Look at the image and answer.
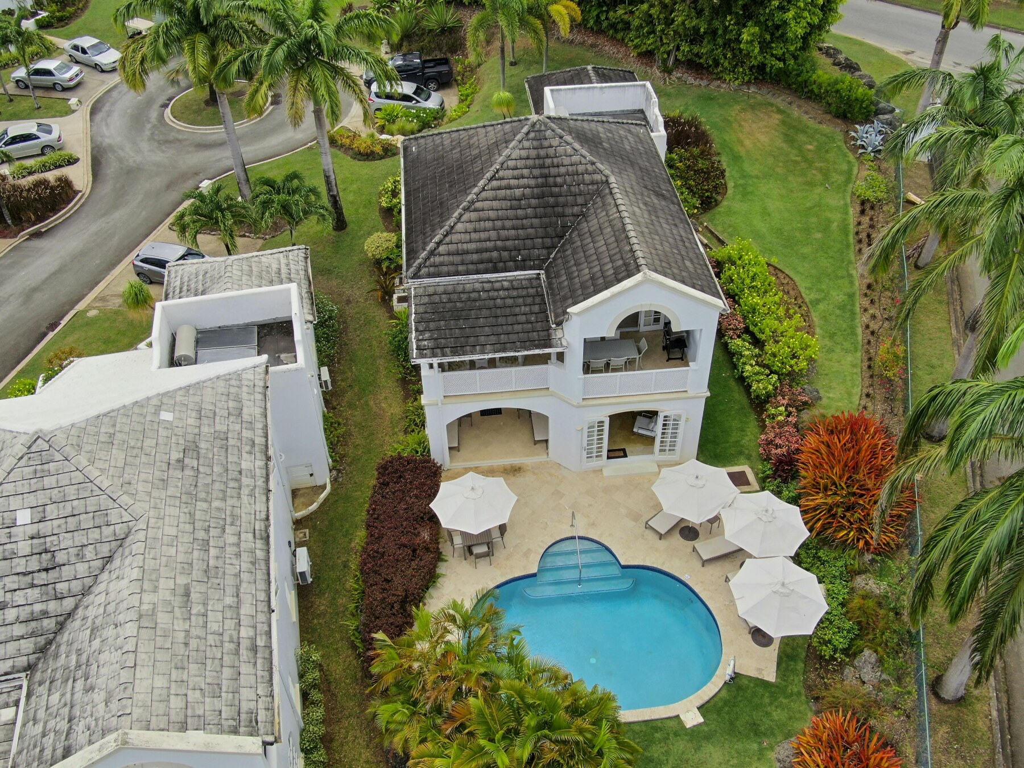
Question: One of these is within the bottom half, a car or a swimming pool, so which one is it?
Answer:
swimming pool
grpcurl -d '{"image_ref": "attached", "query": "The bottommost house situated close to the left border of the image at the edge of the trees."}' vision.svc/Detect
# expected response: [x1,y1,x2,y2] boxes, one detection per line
[0,243,341,768]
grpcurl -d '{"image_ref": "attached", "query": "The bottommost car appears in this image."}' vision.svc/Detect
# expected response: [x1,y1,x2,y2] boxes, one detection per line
[128,240,207,286]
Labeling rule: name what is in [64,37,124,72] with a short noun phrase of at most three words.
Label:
car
